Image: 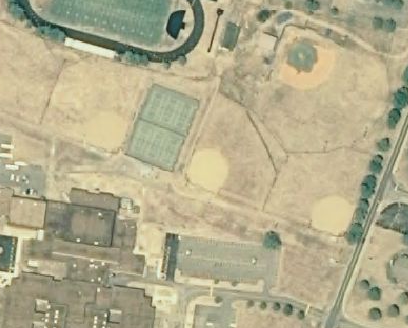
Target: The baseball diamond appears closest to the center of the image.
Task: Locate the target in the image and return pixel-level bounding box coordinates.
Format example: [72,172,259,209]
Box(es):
[187,146,232,195]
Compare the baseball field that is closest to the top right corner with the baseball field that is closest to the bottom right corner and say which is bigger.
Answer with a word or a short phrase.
the baseball field that is closest to the top right corner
